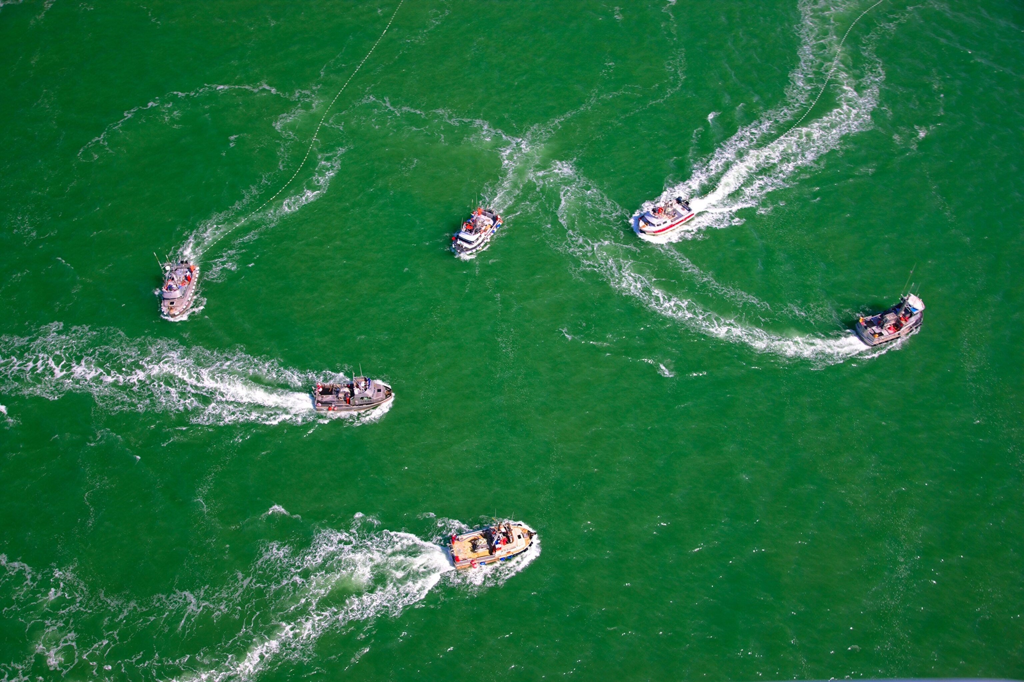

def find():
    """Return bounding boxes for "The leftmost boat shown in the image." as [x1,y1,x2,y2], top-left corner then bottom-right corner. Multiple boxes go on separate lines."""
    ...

[156,253,200,318]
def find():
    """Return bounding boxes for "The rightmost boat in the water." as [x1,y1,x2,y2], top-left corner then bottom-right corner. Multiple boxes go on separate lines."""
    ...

[854,272,925,346]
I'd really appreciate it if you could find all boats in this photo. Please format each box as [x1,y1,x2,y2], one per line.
[638,191,693,235]
[854,272,925,346]
[448,516,539,568]
[311,364,391,411]
[455,199,502,255]
[156,253,200,318]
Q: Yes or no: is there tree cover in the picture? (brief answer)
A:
No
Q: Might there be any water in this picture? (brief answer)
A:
Yes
